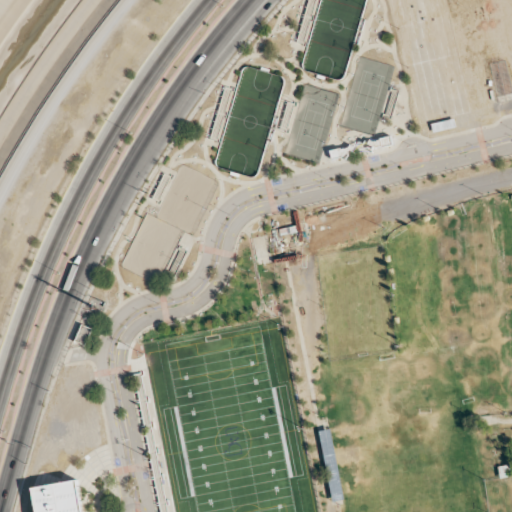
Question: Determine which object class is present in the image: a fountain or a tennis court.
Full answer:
Looking from above, you can make out a tennis court.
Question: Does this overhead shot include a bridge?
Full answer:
No, the photo shows no bridge.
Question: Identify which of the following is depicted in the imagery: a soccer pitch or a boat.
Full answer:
It is a soccer pitch that can be seen here.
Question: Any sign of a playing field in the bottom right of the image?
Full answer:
Yes, there is a playing field in the bottom right of the image.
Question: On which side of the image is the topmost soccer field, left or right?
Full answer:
The topmost soccer field appears in the right half of the scene.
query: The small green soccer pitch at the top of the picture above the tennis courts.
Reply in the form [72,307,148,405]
[303,0,363,78]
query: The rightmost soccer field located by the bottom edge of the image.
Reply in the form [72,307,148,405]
[345,352,482,510]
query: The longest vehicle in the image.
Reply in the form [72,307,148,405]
[64,256,81,290]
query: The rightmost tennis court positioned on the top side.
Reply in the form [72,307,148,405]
[340,57,392,134]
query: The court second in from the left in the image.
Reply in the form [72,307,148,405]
[159,165,218,234]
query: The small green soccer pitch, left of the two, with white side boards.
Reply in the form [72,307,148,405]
[216,67,280,177]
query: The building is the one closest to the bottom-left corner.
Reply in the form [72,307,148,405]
[28,481,83,512]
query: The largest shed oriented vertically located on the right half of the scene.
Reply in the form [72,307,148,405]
[320,429,343,502]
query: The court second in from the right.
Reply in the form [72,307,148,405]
[284,83,336,162]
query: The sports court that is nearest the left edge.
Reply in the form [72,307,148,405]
[122,214,184,278]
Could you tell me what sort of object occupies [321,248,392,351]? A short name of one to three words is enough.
soccer field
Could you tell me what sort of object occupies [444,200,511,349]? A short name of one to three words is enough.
sports field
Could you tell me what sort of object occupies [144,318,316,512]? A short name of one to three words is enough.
sports field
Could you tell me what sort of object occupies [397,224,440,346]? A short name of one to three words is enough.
soccer field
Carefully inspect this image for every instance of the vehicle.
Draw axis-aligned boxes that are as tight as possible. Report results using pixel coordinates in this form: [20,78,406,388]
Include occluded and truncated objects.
[2,489,8,498]
[300,306,305,316]
[10,460,16,469]
[194,54,206,66]
[263,2,271,10]
[64,256,81,290]
[93,237,100,246]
